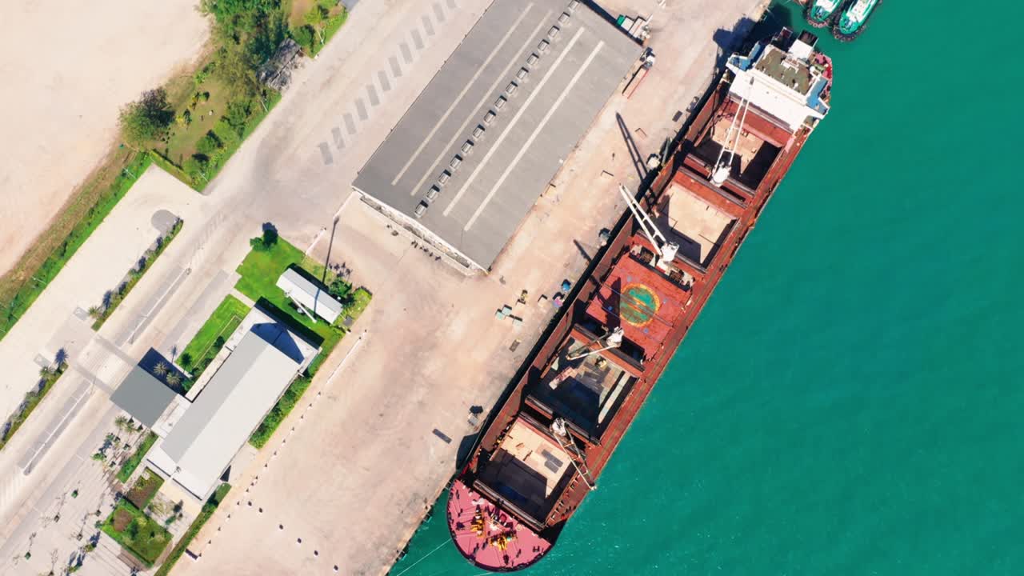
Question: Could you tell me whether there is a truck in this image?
Yes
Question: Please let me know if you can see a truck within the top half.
Yes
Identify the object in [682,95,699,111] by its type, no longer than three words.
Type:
vehicle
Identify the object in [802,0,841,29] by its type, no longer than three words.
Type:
boat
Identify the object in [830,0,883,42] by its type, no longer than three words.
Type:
boat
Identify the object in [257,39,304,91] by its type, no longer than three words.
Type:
shed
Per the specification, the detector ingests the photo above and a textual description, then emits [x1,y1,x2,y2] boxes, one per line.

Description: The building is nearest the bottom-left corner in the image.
[110,309,320,522]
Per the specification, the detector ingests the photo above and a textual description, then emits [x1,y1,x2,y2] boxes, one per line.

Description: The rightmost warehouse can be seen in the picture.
[352,0,643,278]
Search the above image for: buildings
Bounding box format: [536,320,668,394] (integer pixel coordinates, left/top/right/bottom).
[257,39,304,91]
[110,309,320,522]
[352,0,643,278]
[277,269,345,323]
